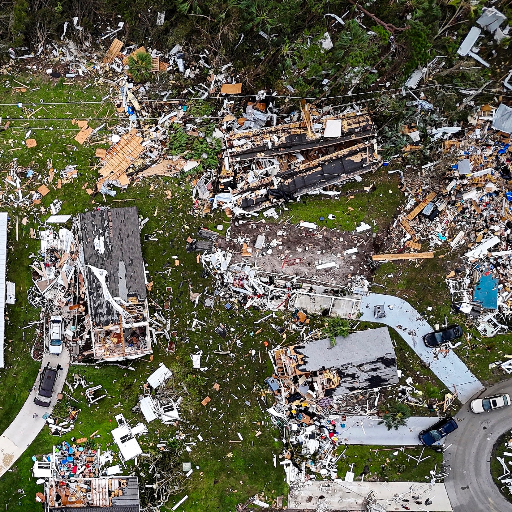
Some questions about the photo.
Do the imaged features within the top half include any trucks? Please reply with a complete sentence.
No, there's no truck to be seen within the top half.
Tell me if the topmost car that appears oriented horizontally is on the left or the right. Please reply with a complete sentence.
You can find the topmost car that appears oriented horizontally on the right side of the picture.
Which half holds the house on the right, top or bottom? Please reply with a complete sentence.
The house on the right is in the bottom half of the image.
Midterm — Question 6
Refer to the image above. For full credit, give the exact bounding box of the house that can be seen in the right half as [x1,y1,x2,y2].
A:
[266,327,404,405]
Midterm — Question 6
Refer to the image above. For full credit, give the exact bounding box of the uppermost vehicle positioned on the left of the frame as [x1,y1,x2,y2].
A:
[48,315,64,353]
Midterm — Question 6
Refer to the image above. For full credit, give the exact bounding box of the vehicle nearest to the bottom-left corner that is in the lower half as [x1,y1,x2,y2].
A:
[34,365,60,405]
